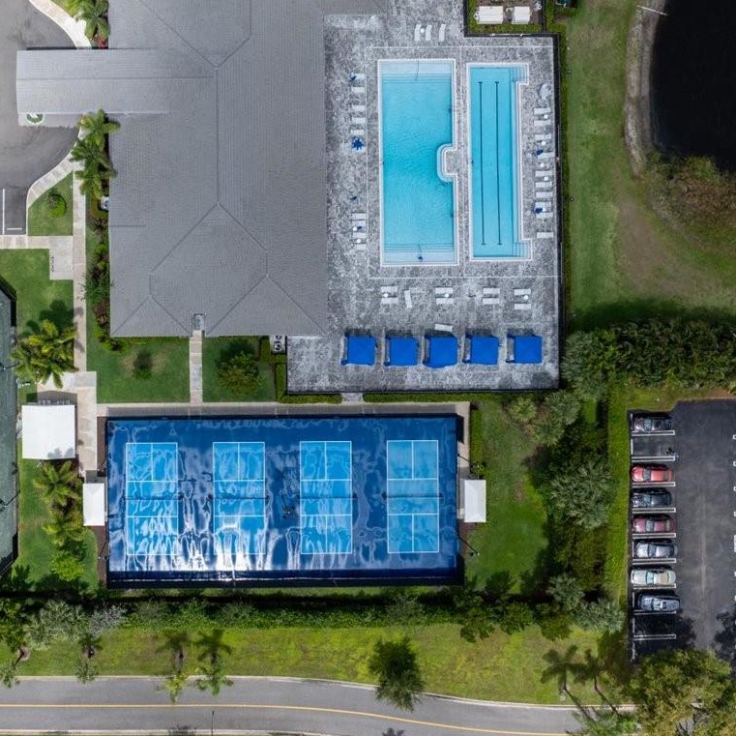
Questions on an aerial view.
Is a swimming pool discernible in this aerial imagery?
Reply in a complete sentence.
Yes, a swimming pool appears in the view.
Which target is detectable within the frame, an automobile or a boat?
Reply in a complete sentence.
Visible in the photo is an automobile.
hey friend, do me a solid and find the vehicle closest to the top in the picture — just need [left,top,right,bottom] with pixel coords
[626,415,675,434]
